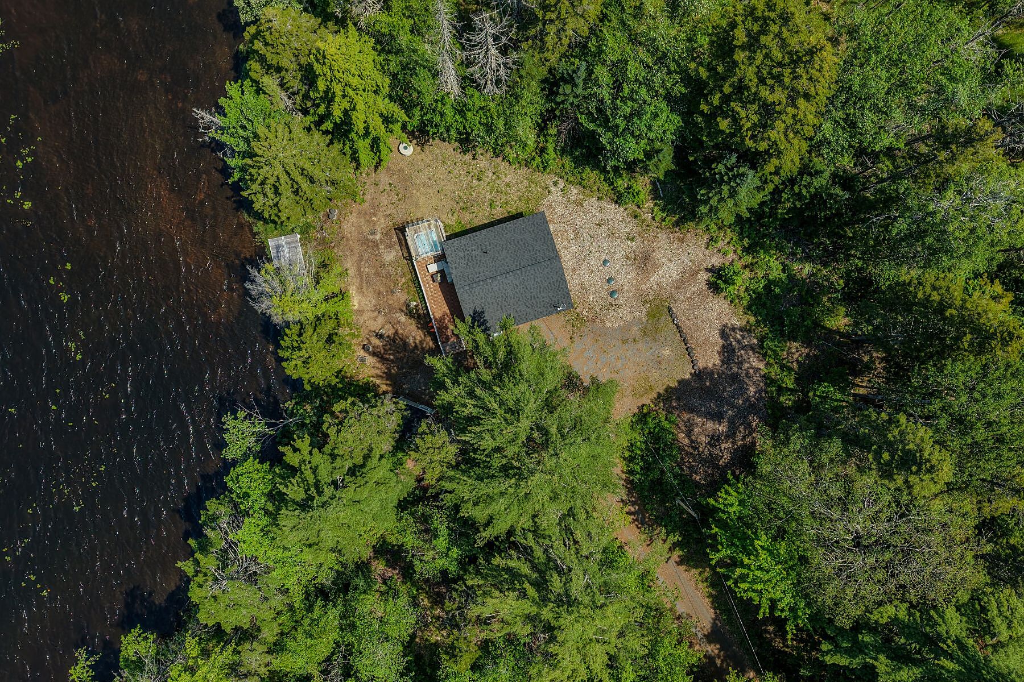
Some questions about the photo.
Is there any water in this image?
Yes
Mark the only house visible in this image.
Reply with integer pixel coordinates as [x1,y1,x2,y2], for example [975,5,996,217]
[442,211,573,337]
